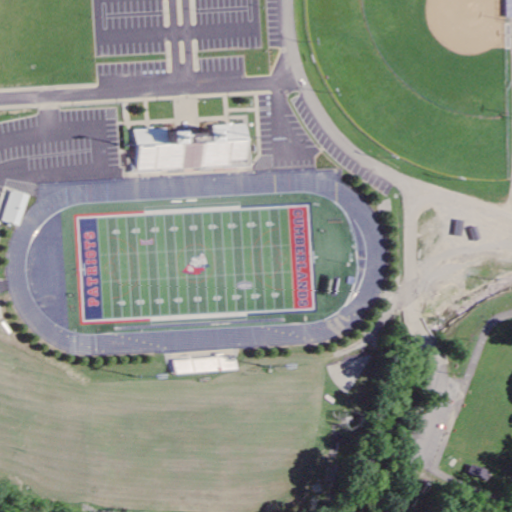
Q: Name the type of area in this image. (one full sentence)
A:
This image shows a sports ground.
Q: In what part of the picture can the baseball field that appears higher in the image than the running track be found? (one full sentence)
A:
The baseball field that appears higher in the image than the running track sits in the top right section of the image.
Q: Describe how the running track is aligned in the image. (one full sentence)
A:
Seen from above, the running track lies from side to side.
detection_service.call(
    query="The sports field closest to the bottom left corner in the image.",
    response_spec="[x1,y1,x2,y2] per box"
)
[61,193,366,332]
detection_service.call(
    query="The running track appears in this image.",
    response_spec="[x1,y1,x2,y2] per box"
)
[8,170,381,355]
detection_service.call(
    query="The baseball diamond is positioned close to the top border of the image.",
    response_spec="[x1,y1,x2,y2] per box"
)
[307,0,512,180]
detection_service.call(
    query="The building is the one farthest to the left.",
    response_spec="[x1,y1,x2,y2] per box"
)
[0,190,30,227]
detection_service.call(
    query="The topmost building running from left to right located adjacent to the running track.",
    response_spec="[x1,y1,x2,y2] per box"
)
[131,121,250,146]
